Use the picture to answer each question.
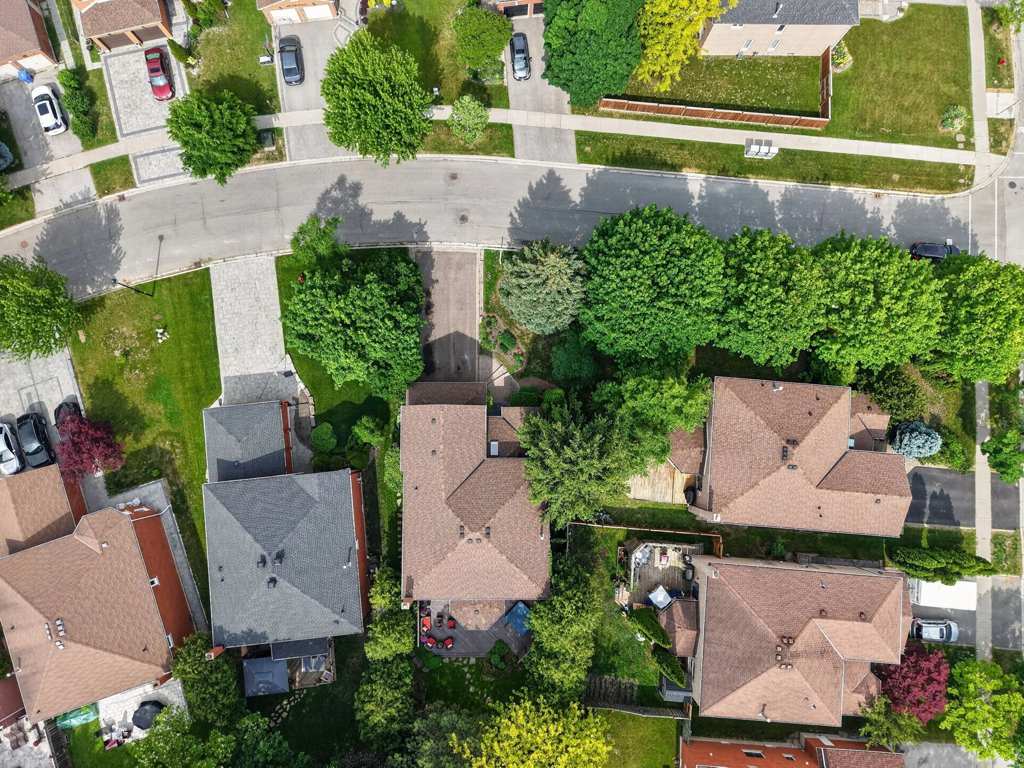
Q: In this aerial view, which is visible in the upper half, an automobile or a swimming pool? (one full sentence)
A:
You can see an automobile in the upper half.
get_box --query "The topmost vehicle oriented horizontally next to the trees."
[909,240,959,264]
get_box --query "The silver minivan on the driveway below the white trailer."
[909,618,960,644]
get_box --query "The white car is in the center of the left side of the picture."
[0,422,26,474]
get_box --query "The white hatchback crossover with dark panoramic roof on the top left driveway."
[32,87,67,135]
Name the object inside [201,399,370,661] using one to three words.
house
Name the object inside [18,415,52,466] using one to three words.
car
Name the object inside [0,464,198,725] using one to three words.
house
